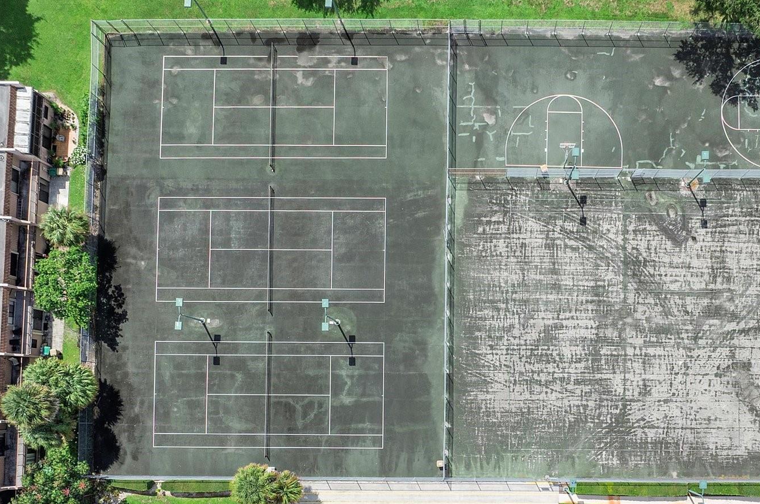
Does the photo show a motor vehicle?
No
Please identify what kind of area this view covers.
sports ground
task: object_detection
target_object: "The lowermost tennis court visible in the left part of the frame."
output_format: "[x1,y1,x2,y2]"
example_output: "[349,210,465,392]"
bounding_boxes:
[95,322,446,477]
